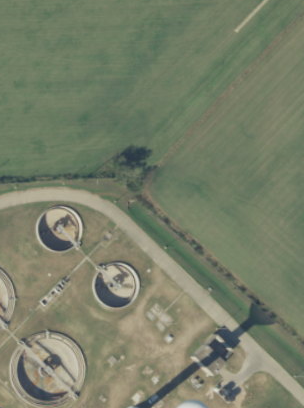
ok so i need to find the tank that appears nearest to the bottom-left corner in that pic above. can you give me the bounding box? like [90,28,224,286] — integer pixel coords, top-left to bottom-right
[10,332,86,408]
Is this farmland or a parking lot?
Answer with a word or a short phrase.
farmland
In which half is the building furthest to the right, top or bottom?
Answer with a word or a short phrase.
bottom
